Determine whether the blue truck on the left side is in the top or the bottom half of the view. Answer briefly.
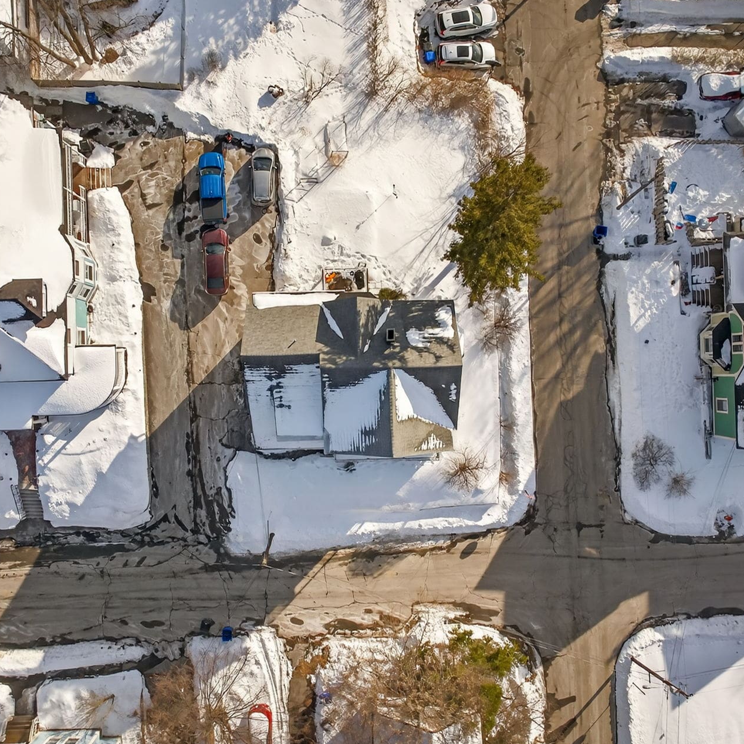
top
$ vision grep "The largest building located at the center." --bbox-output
[241,290,464,462]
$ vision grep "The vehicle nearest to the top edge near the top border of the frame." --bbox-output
[433,0,496,39]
